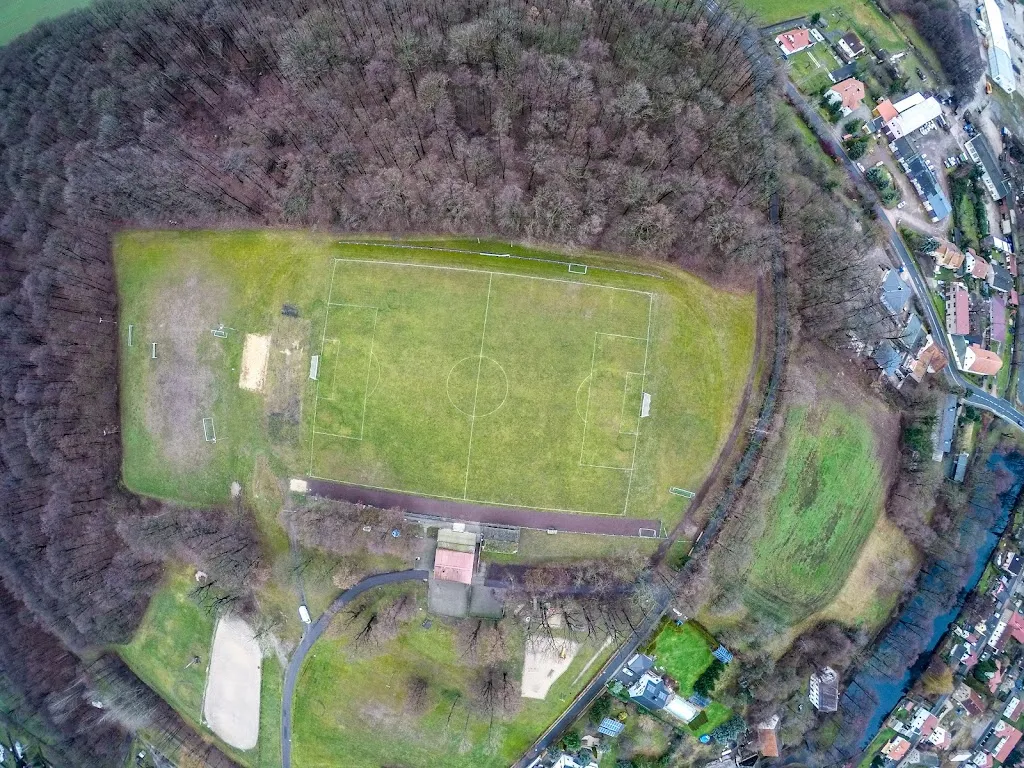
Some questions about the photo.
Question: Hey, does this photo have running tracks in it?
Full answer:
Yes, there is a running track in the image.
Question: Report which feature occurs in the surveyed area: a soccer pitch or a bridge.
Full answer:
This aerial view contains a soccer pitch.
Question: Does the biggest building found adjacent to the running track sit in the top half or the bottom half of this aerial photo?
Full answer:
Seen from above, the biggest building found adjacent to the running track lies in the bottom half of the view.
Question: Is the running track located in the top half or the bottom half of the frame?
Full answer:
The running track sits in the bottom half of the picture.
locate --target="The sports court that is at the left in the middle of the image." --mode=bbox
[239,334,271,391]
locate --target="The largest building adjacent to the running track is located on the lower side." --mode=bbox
[434,529,477,586]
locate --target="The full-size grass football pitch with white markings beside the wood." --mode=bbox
[305,255,658,518]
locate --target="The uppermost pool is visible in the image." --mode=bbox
[669,694,697,721]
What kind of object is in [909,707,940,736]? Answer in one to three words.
house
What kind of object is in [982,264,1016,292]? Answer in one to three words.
house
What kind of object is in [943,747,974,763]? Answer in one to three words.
shed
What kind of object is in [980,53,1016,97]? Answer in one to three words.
building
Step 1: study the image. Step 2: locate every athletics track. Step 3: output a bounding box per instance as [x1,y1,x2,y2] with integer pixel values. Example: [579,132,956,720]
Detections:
[306,480,661,538]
